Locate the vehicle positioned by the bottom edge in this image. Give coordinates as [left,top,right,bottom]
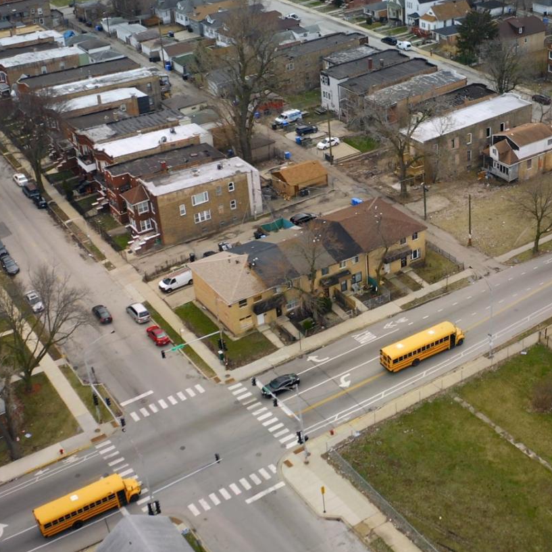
[31,472,148,544]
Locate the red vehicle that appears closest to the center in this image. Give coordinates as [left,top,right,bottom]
[144,321,170,344]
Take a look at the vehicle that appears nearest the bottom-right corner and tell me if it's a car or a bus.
bus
